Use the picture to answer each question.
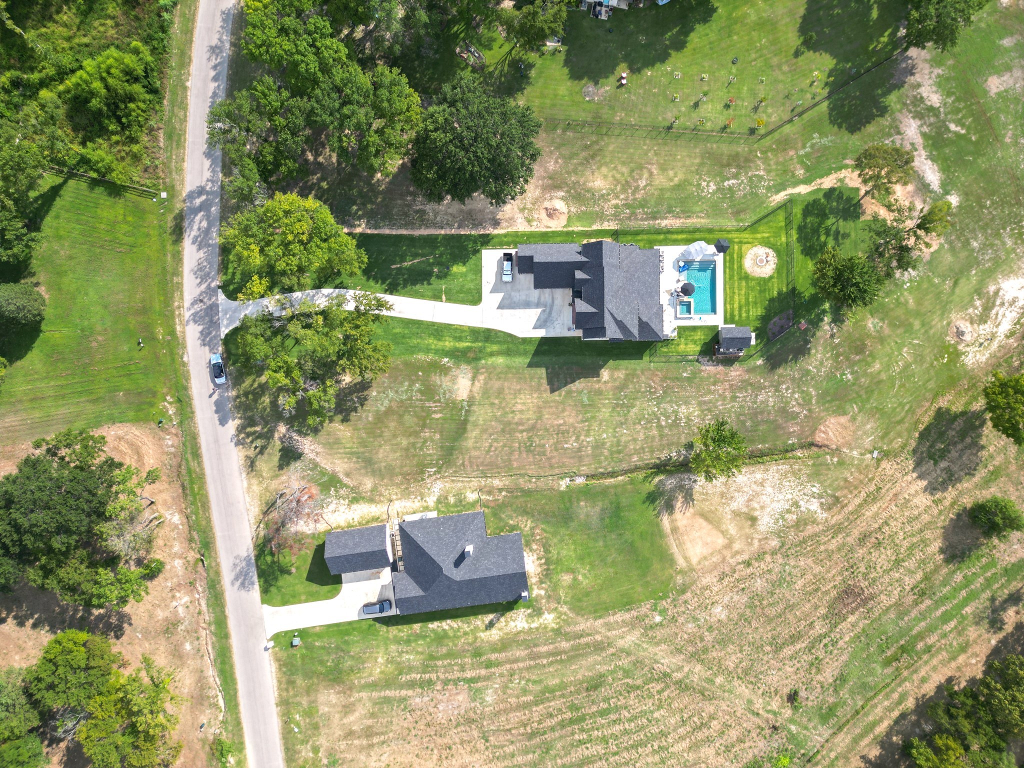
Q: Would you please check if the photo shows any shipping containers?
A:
No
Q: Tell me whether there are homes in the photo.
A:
Yes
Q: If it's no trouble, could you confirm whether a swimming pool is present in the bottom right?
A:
No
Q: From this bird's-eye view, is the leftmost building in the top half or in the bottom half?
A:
bottom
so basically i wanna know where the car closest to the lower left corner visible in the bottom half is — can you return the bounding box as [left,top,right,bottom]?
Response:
[362,602,389,616]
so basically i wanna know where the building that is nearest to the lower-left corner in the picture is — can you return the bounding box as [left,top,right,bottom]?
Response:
[325,523,392,575]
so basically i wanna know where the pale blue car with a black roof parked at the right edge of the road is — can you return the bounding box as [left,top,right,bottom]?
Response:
[207,353,226,385]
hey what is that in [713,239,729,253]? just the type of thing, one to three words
umbrella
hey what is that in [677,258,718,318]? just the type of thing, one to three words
swimming pool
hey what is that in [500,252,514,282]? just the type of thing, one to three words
vehicle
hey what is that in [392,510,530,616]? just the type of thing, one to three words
house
